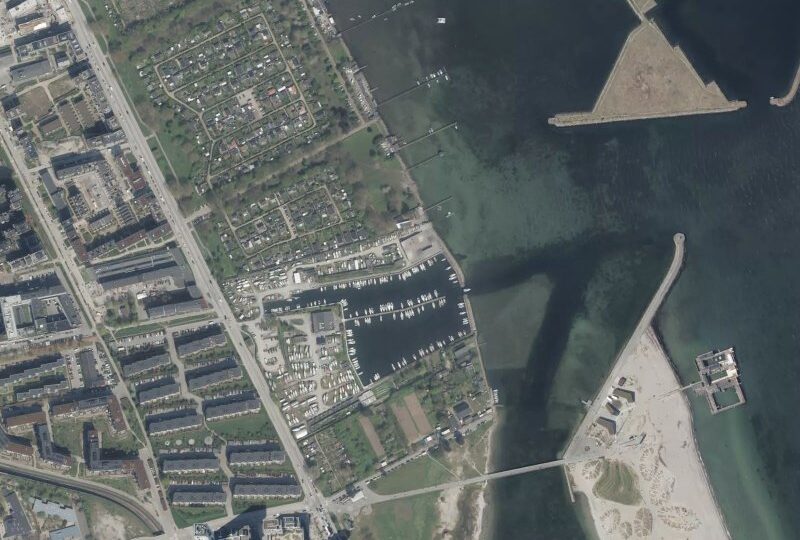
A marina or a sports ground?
marina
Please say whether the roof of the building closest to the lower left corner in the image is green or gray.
gray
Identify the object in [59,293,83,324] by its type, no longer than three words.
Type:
house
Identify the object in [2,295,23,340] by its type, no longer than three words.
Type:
building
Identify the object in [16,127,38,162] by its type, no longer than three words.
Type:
building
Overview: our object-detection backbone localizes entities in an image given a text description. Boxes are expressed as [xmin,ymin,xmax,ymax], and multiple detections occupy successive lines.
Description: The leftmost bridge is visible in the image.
[483,459,568,481]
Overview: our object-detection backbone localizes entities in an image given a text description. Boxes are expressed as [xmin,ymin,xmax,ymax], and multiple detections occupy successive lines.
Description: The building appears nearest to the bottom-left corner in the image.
[3,492,32,538]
